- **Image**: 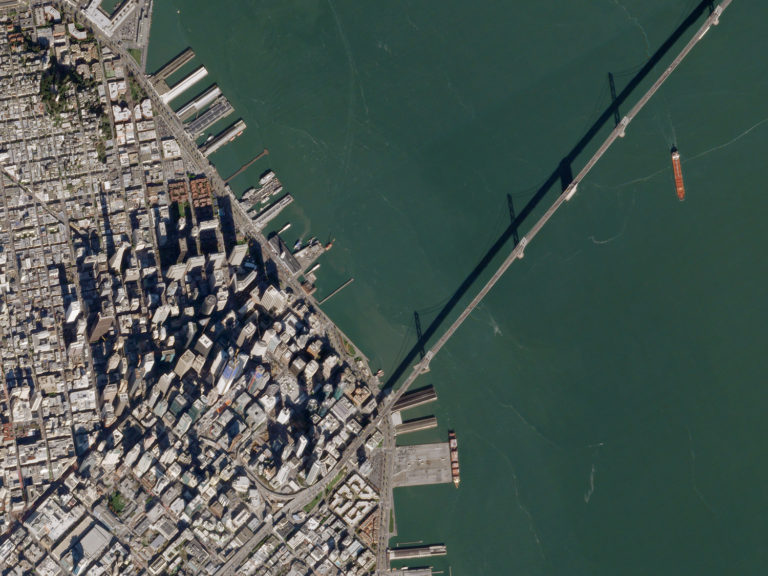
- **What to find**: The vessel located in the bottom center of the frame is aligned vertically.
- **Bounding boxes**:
[448,431,460,488]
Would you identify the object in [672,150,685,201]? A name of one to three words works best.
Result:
ship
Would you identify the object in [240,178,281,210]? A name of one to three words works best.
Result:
pier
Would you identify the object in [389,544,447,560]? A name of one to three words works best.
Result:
pier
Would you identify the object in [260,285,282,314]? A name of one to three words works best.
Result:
building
